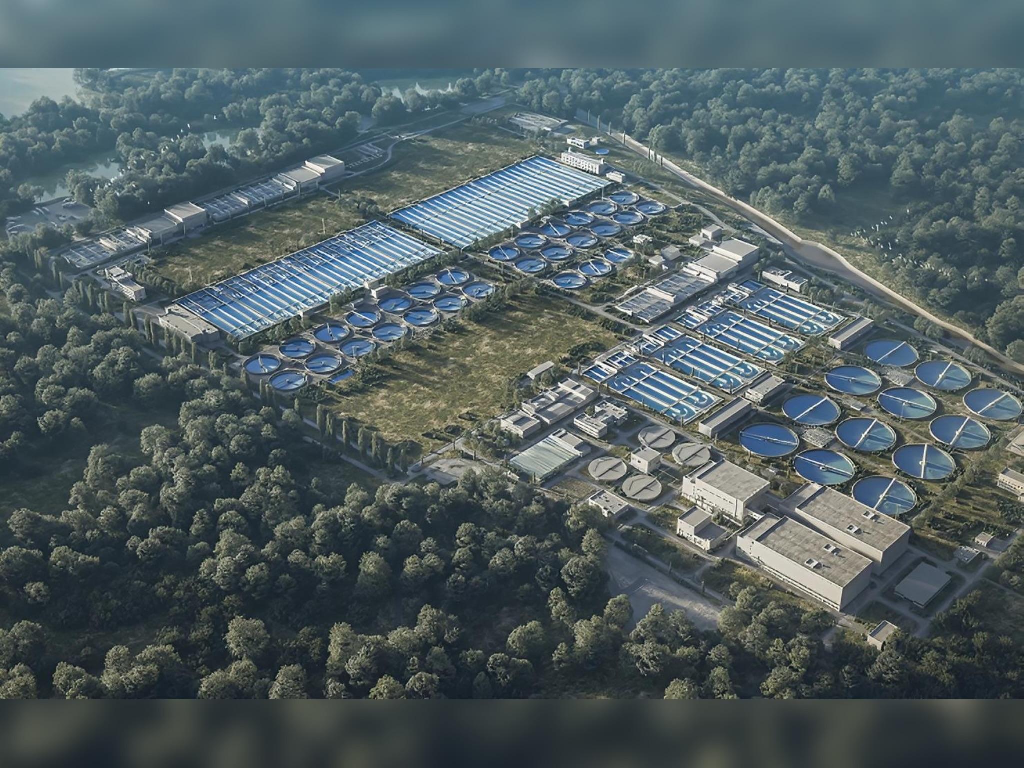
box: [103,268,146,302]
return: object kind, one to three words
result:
building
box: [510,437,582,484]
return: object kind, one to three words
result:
greenhouse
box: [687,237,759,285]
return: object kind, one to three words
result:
house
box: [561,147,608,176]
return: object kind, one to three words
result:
house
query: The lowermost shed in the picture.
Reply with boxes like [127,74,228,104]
[872,620,898,650]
